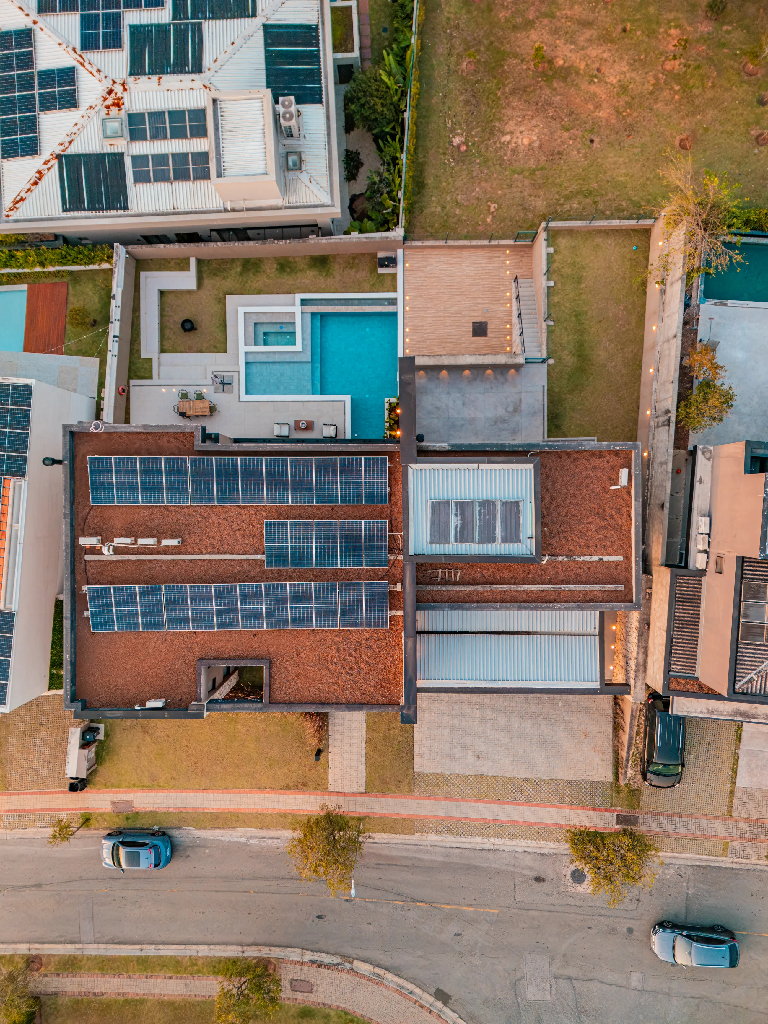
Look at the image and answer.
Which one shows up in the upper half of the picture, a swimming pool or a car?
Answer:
swimming pool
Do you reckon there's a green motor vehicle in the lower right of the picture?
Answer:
No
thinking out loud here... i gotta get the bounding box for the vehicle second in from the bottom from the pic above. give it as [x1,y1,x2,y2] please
[100,830,171,872]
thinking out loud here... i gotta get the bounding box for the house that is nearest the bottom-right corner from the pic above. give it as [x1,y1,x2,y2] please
[644,440,768,724]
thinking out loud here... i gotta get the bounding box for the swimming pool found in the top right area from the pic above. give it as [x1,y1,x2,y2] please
[698,237,768,306]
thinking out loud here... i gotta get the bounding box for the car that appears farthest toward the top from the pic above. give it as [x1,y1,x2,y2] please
[640,694,687,787]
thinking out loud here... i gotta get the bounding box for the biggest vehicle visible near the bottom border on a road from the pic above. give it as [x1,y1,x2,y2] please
[650,920,744,974]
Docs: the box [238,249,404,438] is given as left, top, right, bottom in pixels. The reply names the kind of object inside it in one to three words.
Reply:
swimming pool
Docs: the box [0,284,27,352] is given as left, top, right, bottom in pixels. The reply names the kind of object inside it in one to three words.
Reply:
swimming pool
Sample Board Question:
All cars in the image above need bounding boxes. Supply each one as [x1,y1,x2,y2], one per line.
[650,920,744,974]
[100,830,171,872]
[640,694,687,787]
